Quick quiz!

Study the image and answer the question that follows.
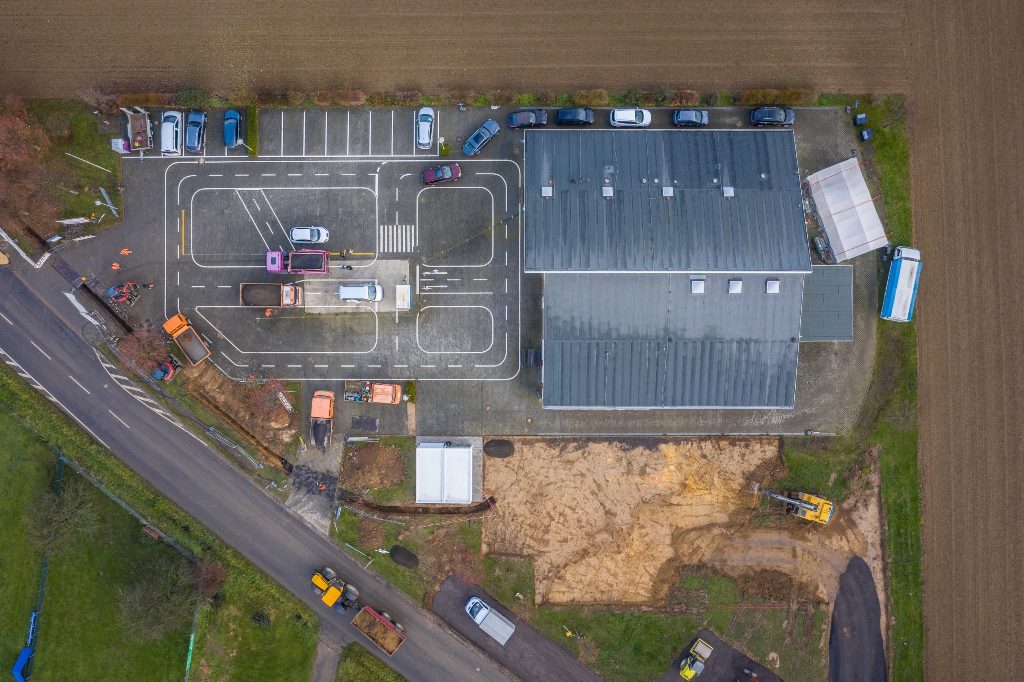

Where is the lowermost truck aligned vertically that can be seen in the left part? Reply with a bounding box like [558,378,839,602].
[310,389,335,448]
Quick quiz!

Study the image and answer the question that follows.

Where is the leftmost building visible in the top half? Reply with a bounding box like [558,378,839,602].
[520,128,812,410]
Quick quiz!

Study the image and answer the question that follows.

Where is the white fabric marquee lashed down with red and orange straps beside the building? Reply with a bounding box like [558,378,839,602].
[801,158,894,265]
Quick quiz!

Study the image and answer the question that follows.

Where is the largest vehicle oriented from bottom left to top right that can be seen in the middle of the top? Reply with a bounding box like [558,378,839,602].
[461,119,500,159]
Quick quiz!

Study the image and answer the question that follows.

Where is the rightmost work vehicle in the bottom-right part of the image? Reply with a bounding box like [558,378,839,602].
[743,477,835,524]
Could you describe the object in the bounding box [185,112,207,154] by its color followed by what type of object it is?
blue car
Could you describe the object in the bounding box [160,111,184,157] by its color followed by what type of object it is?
white vehicle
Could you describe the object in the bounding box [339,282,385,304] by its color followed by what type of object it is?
white vehicle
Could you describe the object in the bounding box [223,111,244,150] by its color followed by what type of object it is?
blue car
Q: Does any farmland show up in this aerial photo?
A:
Yes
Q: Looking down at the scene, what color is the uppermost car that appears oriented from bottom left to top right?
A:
blue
